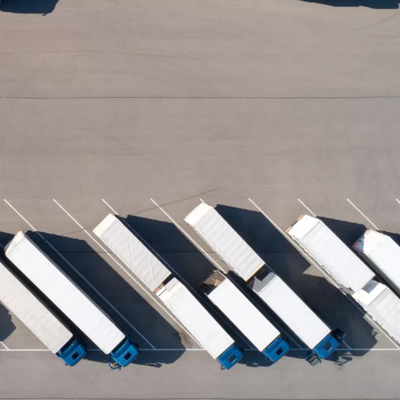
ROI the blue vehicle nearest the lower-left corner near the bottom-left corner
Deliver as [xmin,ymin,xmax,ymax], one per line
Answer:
[54,323,89,366]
